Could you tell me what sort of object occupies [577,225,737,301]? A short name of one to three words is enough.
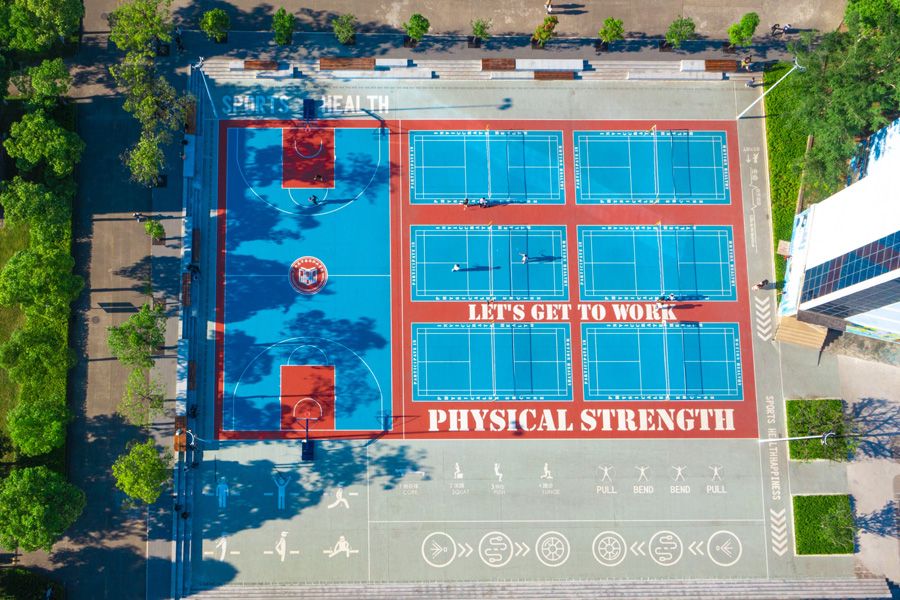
sports court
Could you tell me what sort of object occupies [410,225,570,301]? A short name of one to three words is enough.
sports court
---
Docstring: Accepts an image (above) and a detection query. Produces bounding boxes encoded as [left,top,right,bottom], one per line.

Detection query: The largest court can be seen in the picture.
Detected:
[222,128,392,430]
